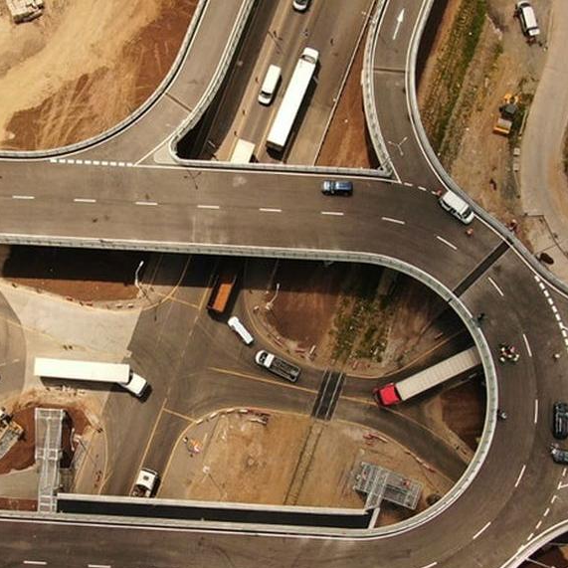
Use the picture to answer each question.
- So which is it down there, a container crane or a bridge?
bridge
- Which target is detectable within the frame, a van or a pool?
van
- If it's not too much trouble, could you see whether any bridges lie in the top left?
Yes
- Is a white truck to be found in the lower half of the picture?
Yes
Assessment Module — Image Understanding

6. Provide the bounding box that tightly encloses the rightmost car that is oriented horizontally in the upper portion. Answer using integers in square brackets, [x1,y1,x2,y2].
[320,180,352,196]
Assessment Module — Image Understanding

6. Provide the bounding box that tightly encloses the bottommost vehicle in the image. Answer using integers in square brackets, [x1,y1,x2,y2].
[132,467,161,498]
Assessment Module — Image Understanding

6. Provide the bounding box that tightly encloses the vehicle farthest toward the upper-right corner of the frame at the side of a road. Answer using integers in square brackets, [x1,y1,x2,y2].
[514,5,542,38]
